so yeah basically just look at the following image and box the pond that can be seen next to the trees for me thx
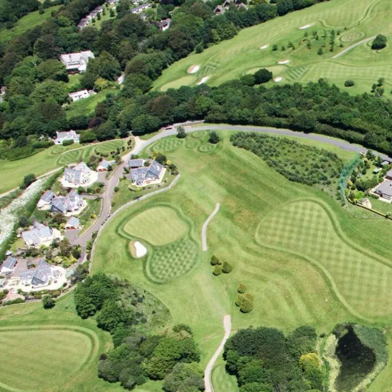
[333,325,375,392]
